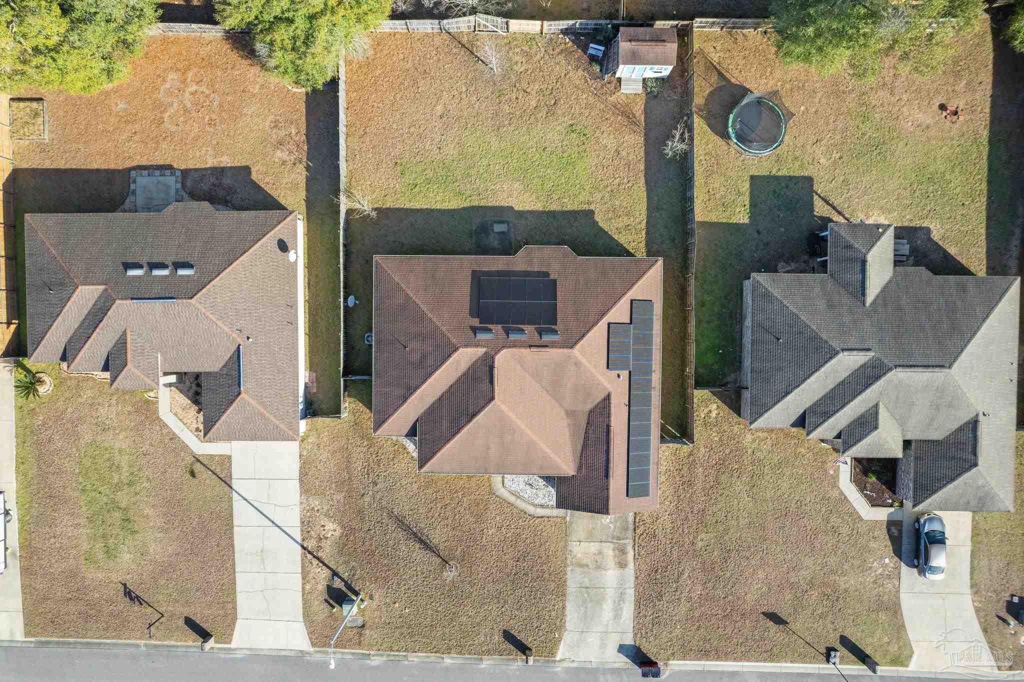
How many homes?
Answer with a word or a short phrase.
3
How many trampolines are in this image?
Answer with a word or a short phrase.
1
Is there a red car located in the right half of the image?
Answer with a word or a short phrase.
No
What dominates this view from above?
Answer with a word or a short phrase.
grass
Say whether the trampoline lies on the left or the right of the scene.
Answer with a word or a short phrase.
right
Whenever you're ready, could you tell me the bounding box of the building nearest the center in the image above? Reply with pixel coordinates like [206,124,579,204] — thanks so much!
[372,246,663,515]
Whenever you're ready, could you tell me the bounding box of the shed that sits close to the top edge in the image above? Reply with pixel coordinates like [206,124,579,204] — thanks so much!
[616,34,679,93]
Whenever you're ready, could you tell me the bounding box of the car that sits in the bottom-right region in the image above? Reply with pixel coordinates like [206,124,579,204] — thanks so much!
[915,513,952,580]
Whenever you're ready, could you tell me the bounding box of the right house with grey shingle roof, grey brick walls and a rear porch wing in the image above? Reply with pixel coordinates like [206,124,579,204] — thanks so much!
[742,222,1021,512]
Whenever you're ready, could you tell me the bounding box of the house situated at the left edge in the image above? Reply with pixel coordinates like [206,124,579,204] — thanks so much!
[24,201,306,442]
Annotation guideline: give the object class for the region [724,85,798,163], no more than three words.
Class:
trampoline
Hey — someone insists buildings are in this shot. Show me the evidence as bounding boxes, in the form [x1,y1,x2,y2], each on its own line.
[24,201,306,442]
[742,222,1021,512]
[372,246,663,515]
[616,34,679,93]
